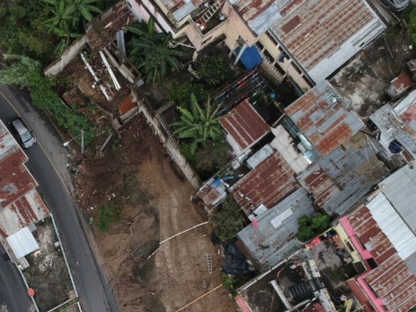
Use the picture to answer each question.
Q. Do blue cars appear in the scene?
No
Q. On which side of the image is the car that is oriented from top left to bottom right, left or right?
left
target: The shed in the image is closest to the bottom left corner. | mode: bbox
[6,230,39,258]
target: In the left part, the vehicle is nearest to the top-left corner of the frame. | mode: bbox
[6,114,41,151]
